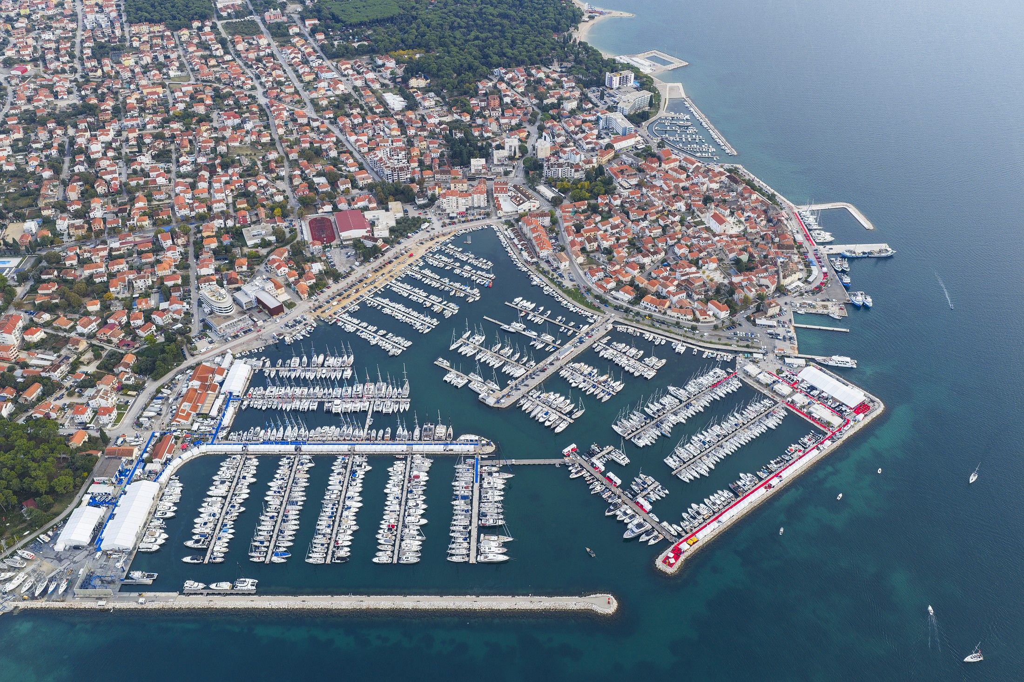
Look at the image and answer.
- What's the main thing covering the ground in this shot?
water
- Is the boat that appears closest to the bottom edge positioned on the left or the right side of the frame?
right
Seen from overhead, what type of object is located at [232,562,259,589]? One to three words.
boat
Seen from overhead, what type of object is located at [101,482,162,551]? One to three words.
building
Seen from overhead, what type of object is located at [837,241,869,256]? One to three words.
boat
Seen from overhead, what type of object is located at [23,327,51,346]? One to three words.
house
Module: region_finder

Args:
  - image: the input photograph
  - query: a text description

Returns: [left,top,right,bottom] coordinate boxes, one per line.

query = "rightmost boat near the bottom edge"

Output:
[964,637,988,662]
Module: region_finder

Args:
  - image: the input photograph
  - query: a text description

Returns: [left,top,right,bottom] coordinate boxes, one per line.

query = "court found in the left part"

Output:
[309,216,335,243]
